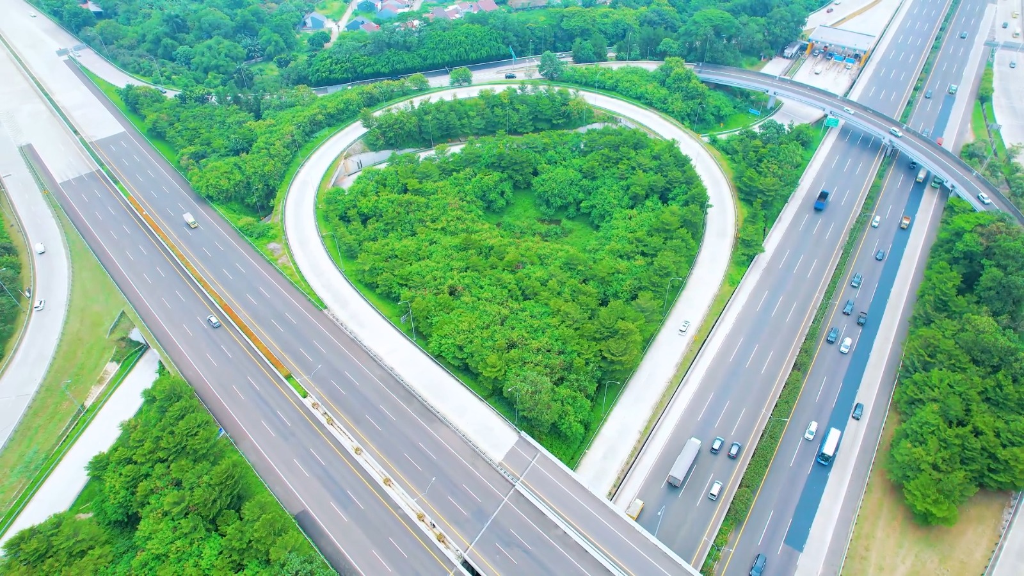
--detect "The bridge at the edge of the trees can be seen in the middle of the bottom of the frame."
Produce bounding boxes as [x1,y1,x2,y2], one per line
[432,431,712,576]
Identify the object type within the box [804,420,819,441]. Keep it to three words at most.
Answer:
car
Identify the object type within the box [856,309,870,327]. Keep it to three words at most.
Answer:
vehicle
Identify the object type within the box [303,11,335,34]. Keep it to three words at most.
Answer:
house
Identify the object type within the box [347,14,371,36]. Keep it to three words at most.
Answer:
house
